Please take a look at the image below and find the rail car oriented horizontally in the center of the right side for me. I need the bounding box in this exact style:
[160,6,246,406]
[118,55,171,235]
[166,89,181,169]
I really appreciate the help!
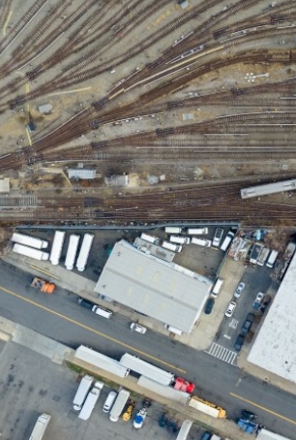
[241,179,296,197]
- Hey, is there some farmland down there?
No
